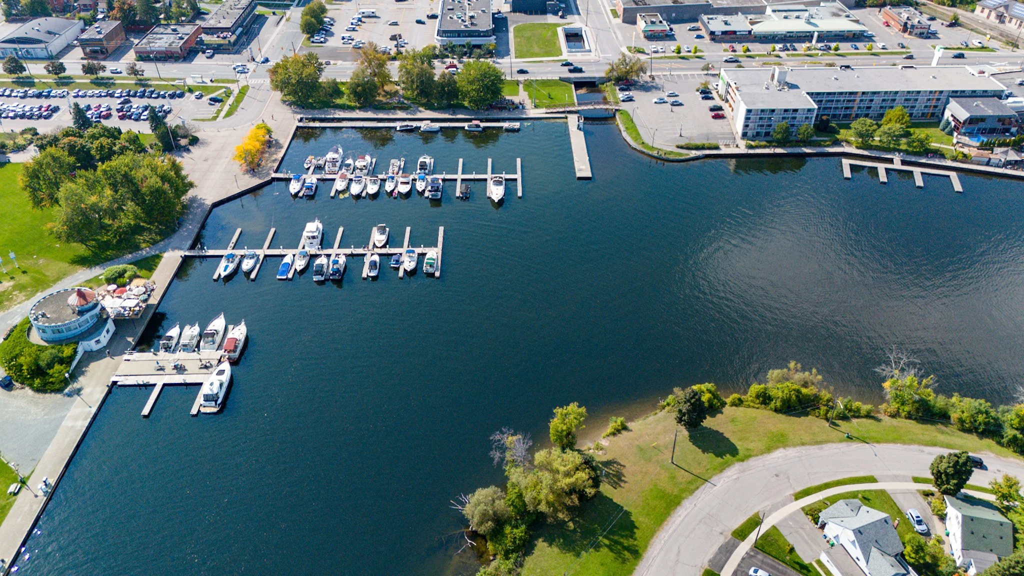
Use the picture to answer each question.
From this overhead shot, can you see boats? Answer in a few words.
Yes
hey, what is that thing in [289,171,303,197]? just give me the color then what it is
white boat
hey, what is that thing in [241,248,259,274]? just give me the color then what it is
white boat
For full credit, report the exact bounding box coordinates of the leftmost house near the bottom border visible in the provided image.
[813,496,912,576]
